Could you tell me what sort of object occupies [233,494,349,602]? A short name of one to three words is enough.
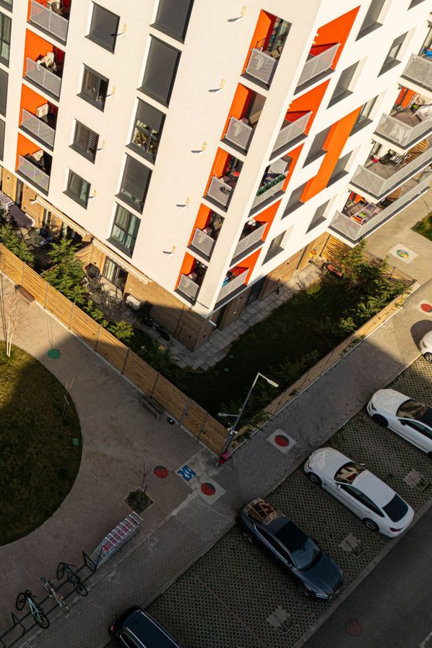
car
